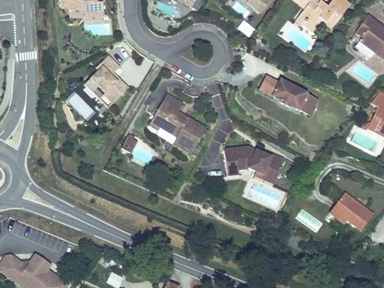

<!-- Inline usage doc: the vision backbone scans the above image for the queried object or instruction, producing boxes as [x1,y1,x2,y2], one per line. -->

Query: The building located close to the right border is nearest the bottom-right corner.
[332,192,374,232]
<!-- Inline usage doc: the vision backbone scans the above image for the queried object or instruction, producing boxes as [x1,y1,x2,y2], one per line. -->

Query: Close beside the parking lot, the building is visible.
[0,250,69,288]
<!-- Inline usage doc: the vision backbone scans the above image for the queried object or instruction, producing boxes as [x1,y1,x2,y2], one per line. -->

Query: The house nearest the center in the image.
[150,92,208,154]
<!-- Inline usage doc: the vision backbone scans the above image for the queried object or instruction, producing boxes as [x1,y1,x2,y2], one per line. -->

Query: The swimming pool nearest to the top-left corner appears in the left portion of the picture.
[80,12,112,36]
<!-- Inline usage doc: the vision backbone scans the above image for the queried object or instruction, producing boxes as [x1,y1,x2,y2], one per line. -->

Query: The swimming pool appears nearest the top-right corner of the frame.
[346,59,377,88]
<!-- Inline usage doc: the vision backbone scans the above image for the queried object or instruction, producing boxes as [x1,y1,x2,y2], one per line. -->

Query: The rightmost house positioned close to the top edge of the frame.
[353,14,384,60]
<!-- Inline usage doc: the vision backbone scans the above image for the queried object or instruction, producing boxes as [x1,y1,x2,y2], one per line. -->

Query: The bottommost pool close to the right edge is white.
[346,124,384,156]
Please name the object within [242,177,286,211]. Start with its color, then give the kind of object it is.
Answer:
white swimming pool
